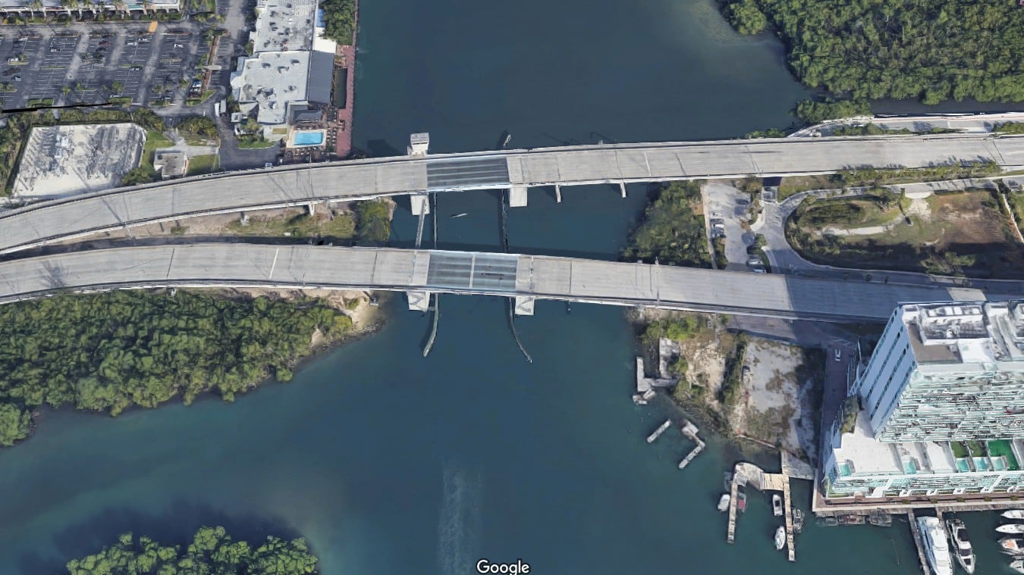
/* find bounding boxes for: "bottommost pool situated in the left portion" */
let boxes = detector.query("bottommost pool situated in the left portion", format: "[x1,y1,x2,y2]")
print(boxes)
[285,127,327,150]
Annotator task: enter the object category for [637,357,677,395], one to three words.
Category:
pier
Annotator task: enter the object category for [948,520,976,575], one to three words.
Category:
boat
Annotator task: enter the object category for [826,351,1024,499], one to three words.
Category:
building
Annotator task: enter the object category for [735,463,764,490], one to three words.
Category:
pier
